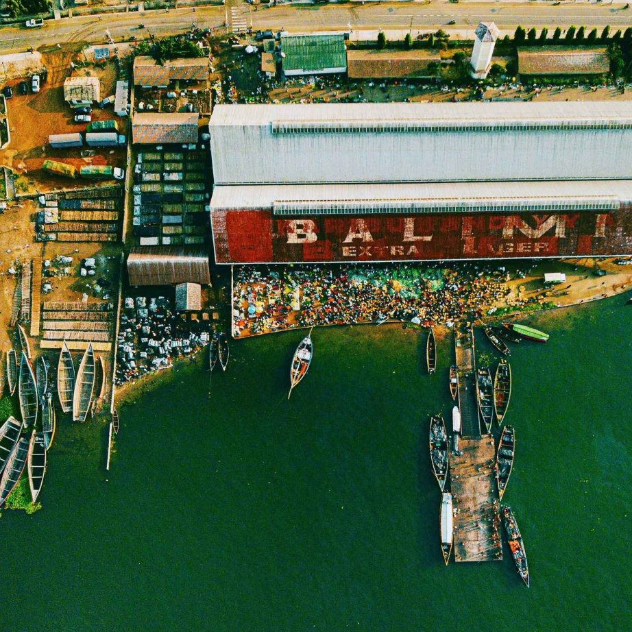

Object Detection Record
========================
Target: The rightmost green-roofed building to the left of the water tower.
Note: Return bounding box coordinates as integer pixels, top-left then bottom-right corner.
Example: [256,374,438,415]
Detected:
[283,30,348,79]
